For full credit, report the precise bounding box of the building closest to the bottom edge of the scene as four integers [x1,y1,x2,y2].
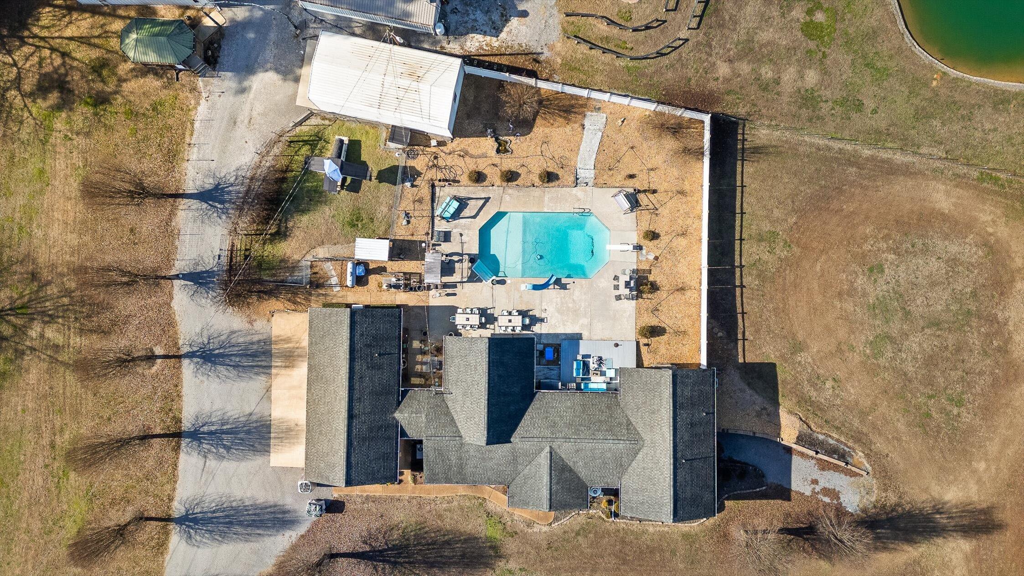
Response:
[303,307,718,523]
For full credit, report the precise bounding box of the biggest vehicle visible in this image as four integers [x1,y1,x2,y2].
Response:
[307,497,327,515]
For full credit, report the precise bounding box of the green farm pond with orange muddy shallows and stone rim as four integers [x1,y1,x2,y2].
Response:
[888,0,1024,92]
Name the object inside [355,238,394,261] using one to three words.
shed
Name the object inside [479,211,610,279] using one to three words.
swimming pool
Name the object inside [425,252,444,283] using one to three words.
building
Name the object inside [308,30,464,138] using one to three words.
barn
